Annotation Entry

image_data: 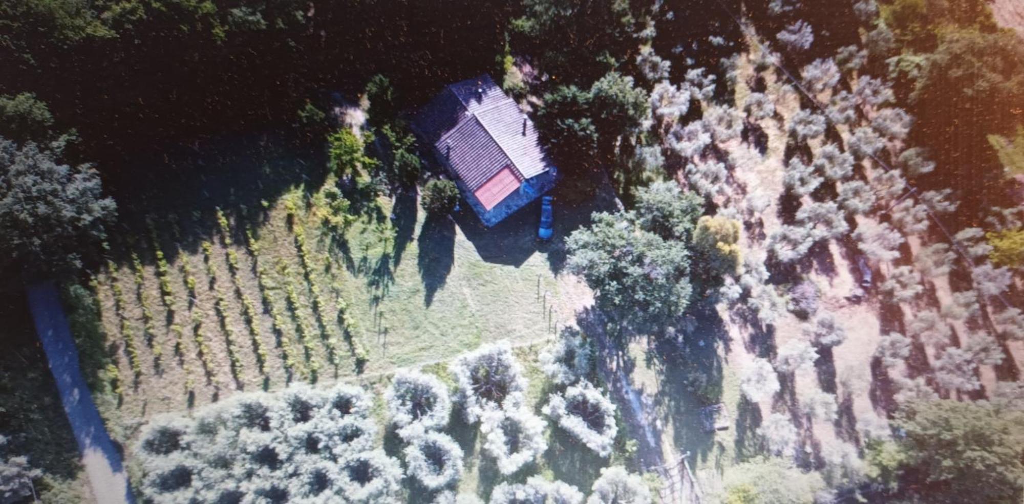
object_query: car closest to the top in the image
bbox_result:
[536,198,555,241]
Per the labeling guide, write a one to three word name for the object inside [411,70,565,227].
house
